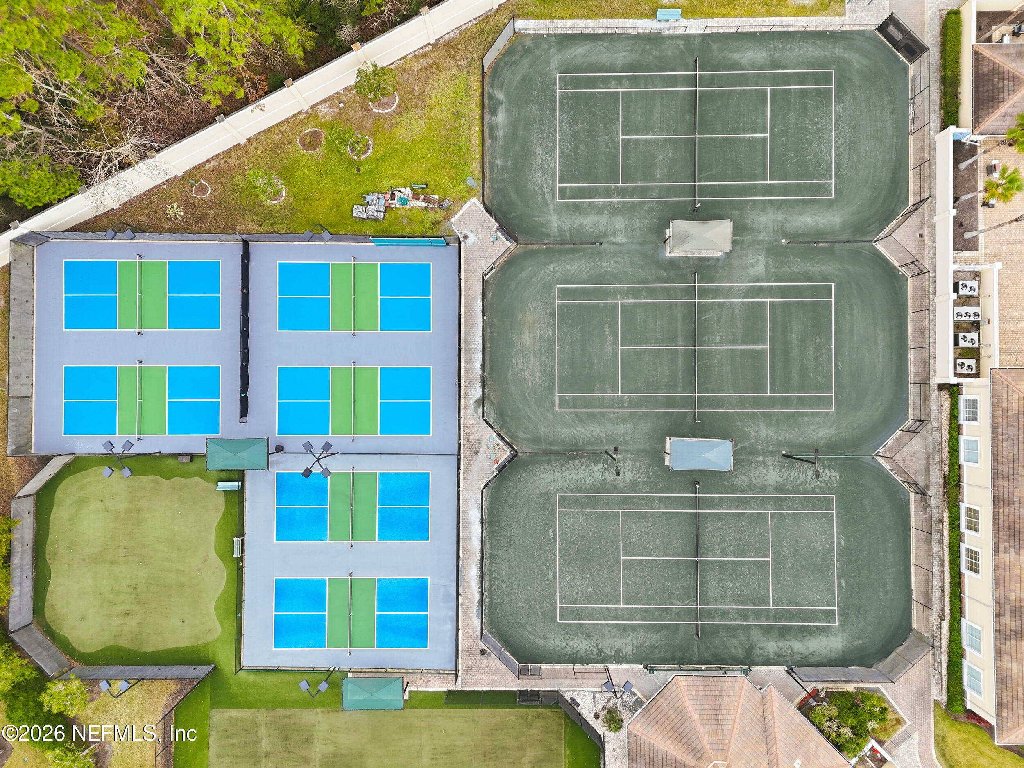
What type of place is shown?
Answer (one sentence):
This image shows a sports ground.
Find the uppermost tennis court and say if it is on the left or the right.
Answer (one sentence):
The uppermost tennis court sits on the right side.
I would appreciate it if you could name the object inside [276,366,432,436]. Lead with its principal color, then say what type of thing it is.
blue sports court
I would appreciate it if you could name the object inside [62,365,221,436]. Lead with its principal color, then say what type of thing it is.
blue sports court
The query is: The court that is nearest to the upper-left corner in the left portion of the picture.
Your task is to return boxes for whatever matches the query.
[63,259,221,331]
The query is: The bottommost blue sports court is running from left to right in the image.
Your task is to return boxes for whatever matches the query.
[272,577,430,650]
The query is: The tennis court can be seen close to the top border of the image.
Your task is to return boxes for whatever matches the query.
[486,31,910,243]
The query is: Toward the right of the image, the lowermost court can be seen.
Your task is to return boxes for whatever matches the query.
[484,454,912,668]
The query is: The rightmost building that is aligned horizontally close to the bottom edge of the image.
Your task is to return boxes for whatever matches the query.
[624,671,857,768]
